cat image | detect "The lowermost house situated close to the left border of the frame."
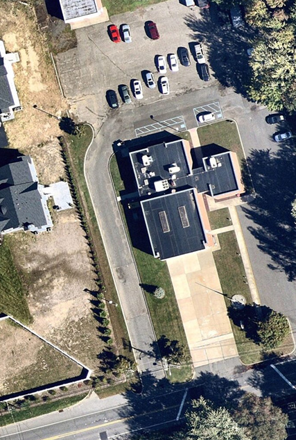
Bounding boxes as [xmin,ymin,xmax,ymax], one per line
[0,155,51,237]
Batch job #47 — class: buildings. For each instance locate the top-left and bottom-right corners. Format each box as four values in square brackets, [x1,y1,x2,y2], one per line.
[129,141,243,258]
[0,155,51,237]
[60,0,102,23]
[0,40,18,111]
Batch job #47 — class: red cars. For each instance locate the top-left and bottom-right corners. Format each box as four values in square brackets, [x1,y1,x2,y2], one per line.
[147,21,158,40]
[108,24,120,43]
